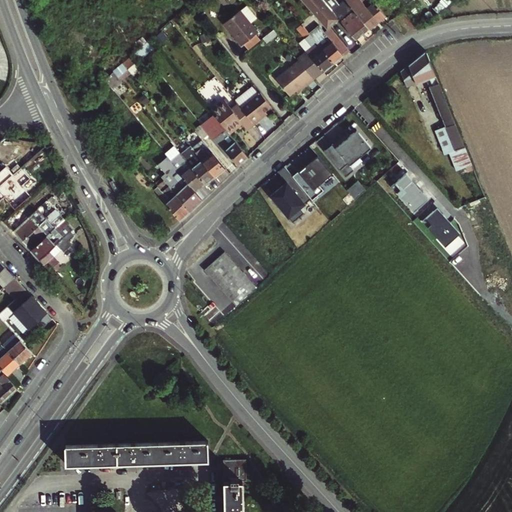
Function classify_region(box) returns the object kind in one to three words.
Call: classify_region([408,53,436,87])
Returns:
house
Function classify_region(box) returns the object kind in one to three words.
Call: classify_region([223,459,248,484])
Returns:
building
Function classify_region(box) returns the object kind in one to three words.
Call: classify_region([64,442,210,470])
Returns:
building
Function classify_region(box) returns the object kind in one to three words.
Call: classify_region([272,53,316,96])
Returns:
house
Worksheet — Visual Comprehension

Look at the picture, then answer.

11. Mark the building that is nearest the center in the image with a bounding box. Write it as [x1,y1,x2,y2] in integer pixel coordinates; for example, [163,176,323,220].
[204,252,257,304]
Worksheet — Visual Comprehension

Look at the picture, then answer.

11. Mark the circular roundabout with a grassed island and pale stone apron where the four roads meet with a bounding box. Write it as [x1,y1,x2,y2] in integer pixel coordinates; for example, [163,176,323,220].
[102,248,179,325]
